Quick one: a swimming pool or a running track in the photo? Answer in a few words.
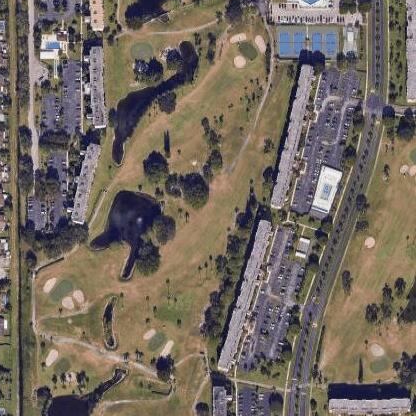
swimming pool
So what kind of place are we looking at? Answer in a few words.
golf course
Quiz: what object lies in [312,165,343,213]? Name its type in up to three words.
swimming pool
